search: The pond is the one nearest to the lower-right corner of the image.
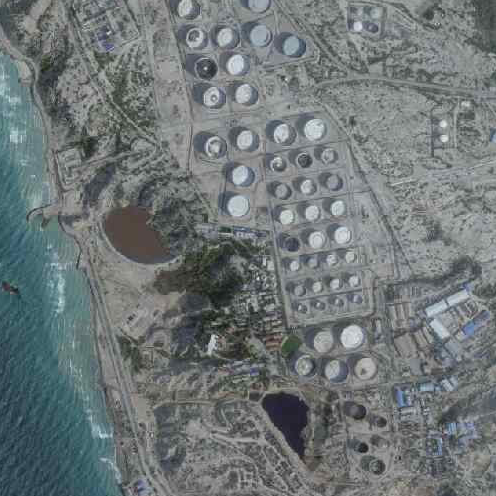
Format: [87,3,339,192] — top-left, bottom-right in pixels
[262,392,308,457]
